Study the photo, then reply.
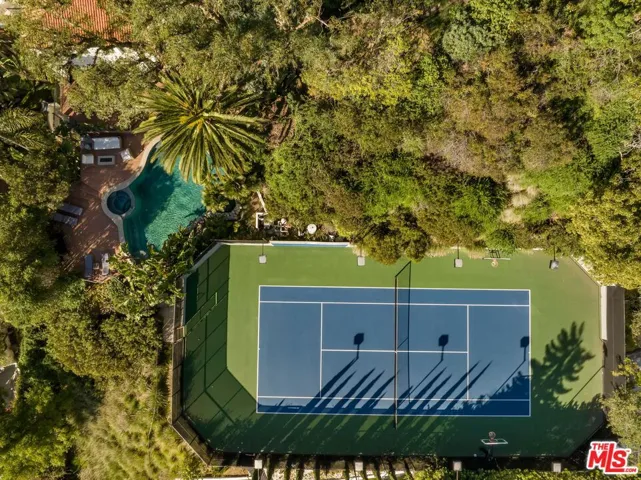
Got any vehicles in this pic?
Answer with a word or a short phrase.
No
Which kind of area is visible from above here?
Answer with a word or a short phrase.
sports ground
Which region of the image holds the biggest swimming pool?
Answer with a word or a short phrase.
left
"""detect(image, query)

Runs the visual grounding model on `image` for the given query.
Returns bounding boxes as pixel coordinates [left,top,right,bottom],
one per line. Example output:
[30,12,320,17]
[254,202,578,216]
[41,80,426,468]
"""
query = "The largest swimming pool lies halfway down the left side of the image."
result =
[116,137,217,260]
